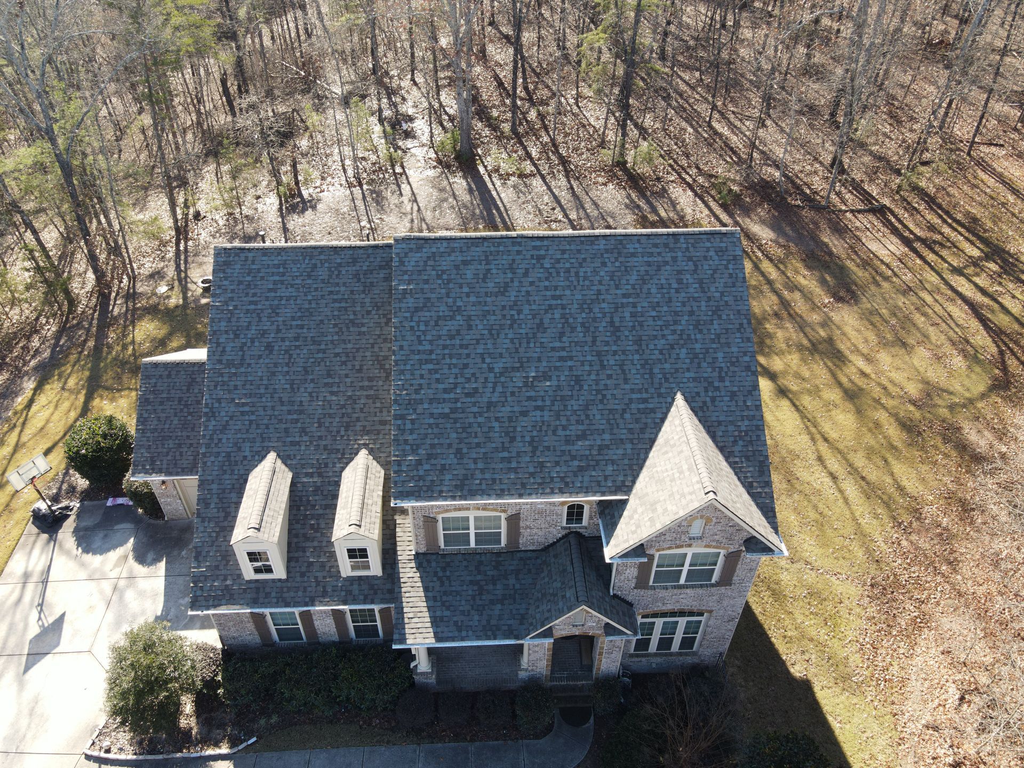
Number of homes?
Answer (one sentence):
Altogether the scene contains 1 home.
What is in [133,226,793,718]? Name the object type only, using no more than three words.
house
